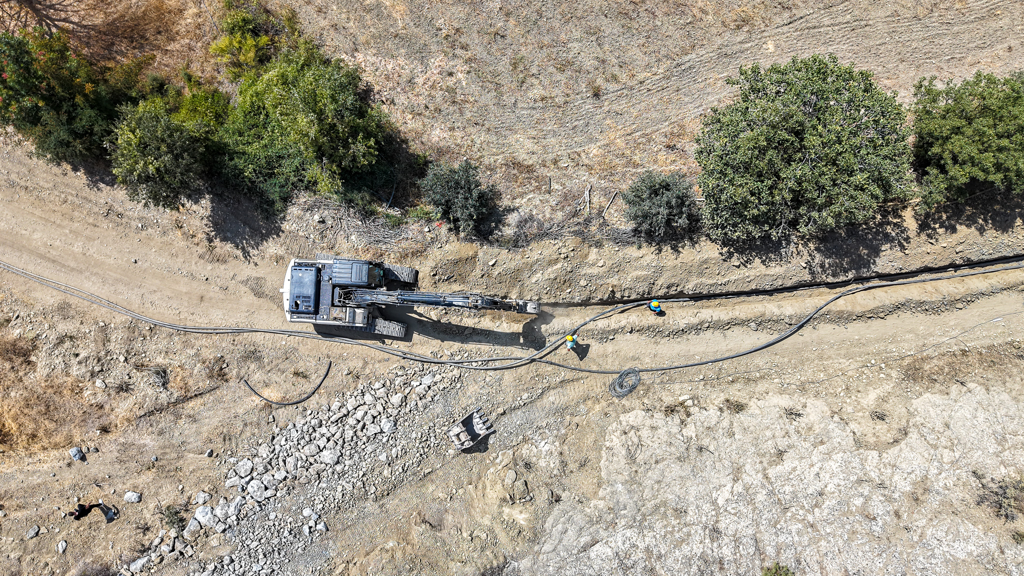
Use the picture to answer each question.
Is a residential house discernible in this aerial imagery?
No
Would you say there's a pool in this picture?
No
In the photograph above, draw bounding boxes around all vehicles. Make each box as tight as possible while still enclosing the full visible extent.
[279,253,540,334]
